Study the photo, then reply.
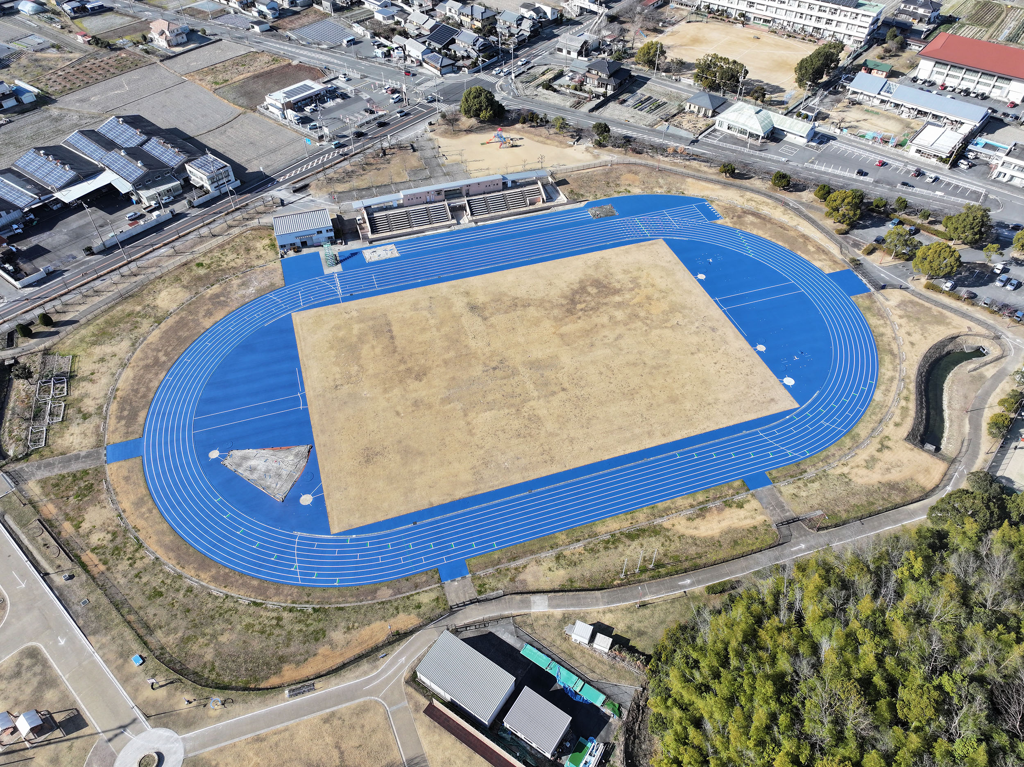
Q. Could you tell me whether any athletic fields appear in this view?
Yes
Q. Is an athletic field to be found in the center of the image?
No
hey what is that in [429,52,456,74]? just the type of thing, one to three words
house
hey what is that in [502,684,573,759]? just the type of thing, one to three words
building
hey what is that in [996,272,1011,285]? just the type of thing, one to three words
vehicle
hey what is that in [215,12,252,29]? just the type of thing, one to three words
solar array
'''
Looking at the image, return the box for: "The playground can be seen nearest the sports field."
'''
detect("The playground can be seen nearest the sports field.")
[820,100,922,146]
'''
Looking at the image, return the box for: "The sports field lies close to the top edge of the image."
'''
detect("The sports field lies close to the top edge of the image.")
[624,19,836,111]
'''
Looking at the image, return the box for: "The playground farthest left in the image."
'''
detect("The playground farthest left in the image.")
[431,132,619,178]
